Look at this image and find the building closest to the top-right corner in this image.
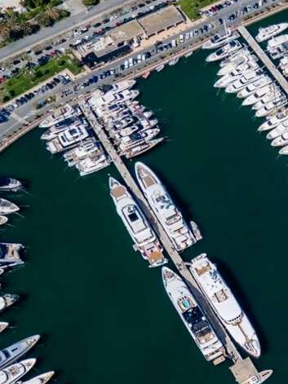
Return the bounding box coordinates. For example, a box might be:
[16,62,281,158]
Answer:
[138,3,188,40]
